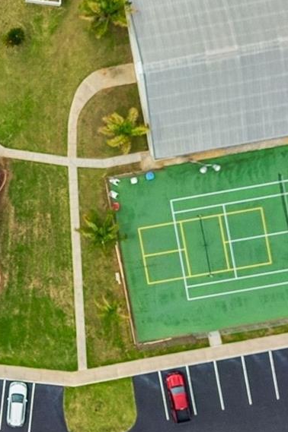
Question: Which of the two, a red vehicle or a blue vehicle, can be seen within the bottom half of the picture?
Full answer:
Looking within the bottom half of the picture, you will find a red vehicle.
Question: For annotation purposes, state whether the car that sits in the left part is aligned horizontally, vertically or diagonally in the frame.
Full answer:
The car that sits in the left part has been laid out vertically relative to the frame.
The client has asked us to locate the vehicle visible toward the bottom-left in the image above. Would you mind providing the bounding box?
[7,380,29,428]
